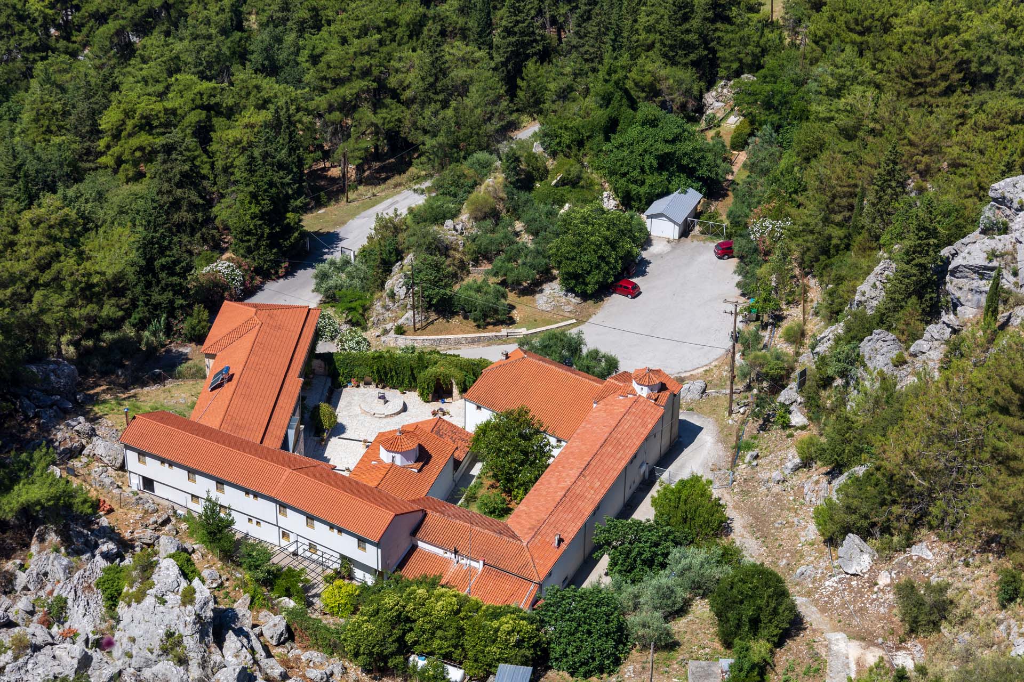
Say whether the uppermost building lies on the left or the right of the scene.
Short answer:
right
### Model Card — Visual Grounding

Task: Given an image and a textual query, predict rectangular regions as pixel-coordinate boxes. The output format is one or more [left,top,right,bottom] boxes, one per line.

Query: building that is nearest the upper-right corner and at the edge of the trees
[645,185,703,239]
